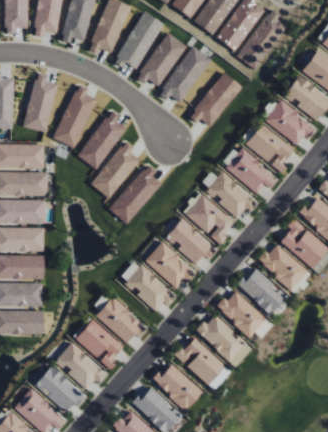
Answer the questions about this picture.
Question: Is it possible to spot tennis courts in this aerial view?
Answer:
No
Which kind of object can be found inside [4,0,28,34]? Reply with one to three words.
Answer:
house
